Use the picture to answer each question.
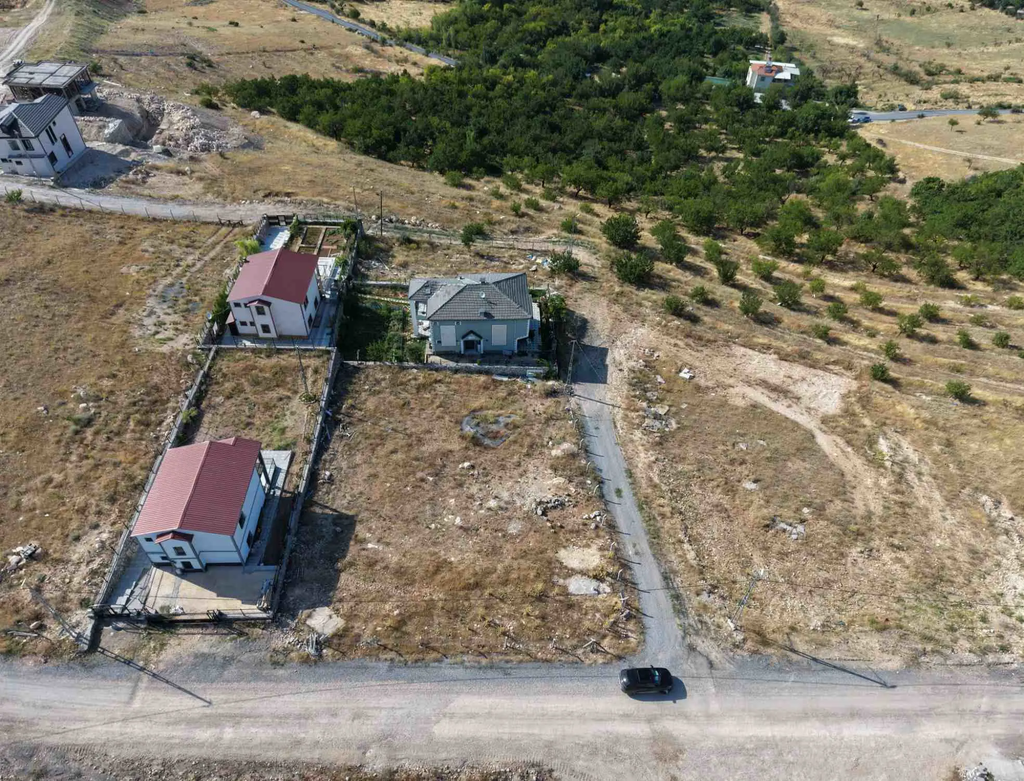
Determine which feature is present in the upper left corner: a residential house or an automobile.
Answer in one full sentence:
What appears in the upper left corner is a residential house.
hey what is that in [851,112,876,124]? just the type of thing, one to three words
vehicle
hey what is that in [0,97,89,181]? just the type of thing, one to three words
house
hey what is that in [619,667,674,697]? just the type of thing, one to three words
car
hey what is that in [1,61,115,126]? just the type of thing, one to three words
building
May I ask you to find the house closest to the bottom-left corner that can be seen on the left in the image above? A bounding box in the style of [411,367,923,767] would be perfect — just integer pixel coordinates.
[127,437,273,571]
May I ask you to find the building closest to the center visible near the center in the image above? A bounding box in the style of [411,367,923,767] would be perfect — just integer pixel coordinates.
[408,271,533,359]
